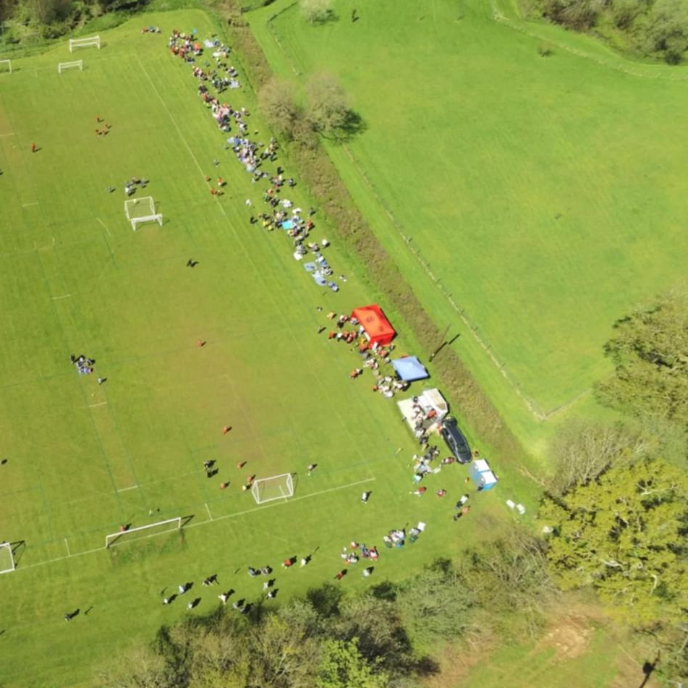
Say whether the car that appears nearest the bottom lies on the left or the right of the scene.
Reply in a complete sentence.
The car that appears nearest the bottom is on the right side of the image.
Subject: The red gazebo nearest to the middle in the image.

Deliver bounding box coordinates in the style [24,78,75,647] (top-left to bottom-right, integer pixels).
[350,304,395,348]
